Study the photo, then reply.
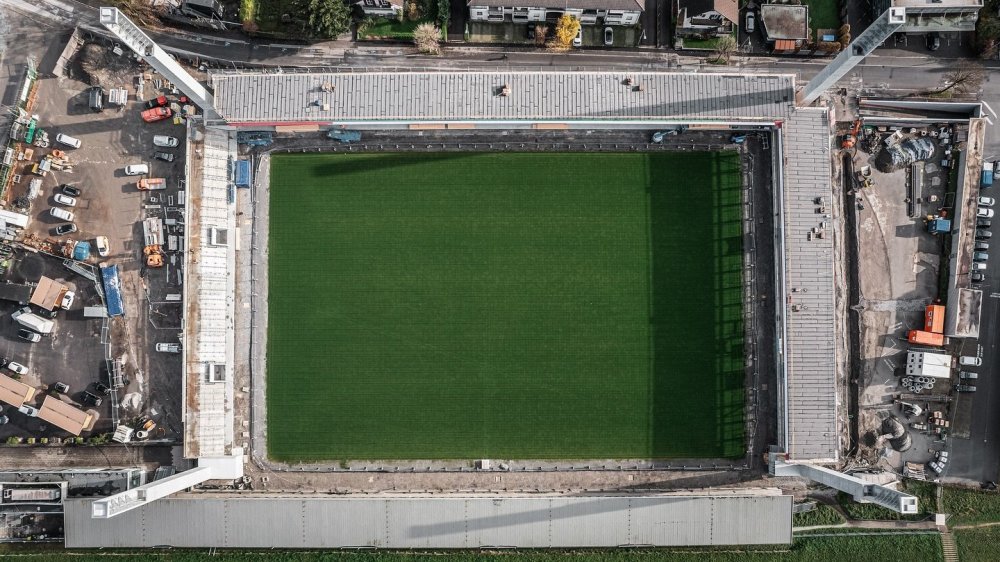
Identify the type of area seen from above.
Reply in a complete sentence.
What you see here is a sports ground.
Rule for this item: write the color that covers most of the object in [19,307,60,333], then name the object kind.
white truck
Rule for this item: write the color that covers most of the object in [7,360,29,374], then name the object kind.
white car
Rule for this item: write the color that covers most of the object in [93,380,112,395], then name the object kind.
black car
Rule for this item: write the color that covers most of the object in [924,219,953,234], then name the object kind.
blue vehicle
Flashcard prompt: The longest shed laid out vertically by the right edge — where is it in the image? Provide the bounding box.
[948,117,986,288]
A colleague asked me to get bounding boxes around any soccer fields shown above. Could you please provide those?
[266,150,748,464]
